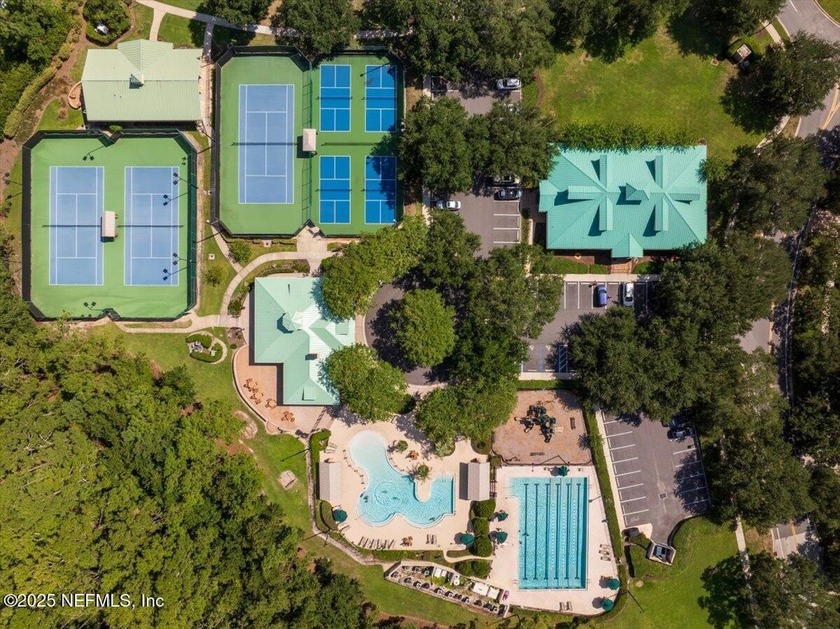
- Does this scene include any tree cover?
Yes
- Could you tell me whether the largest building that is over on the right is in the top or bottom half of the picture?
top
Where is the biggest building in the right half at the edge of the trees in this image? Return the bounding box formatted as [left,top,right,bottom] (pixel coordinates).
[538,145,707,258]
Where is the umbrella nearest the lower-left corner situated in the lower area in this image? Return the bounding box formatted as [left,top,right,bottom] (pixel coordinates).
[332,507,348,522]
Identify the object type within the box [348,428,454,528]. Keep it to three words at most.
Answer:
swimming pool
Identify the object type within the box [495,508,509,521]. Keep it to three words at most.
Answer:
umbrella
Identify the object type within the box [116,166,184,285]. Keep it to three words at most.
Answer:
tennis court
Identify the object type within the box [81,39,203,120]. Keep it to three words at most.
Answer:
building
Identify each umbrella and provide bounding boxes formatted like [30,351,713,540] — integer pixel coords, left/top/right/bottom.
[332,507,348,522]
[459,531,474,546]
[555,463,569,477]
[493,529,508,545]
[599,595,614,611]
[495,508,509,521]
[605,576,620,590]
